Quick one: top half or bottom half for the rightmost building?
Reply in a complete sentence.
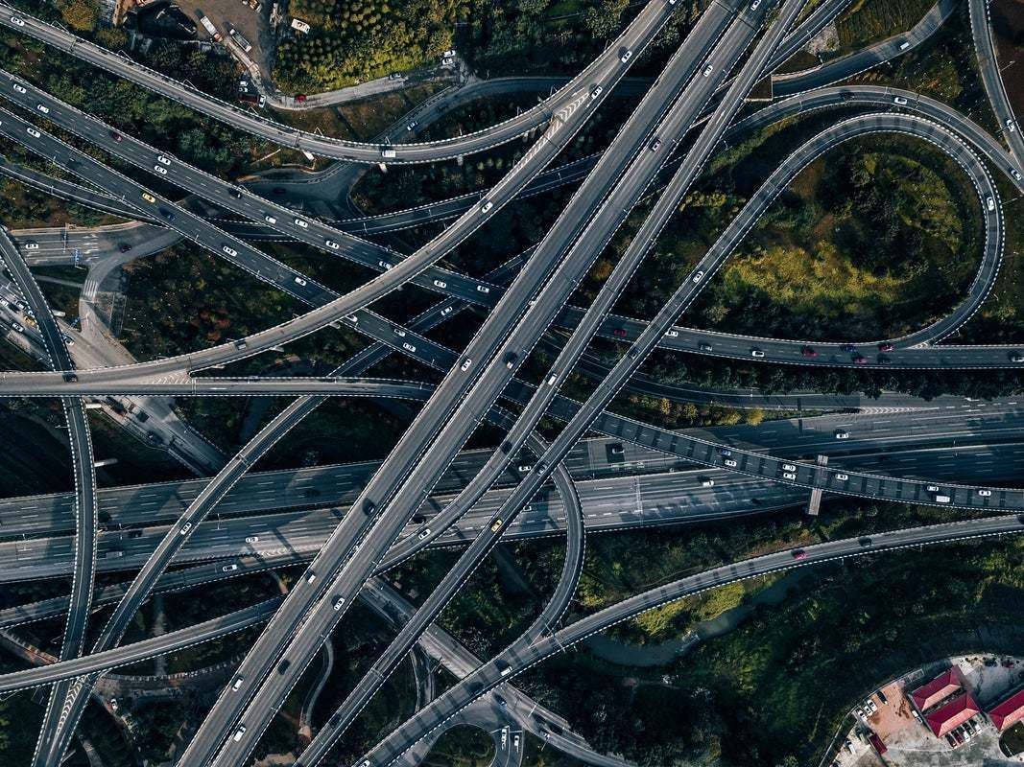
It is in the bottom half that the rightmost building appears.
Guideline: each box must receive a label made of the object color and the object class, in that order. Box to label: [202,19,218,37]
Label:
white vehicle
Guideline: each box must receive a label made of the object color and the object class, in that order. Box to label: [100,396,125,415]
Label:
black vehicle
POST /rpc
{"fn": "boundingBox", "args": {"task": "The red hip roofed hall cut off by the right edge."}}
[984,685,1024,732]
